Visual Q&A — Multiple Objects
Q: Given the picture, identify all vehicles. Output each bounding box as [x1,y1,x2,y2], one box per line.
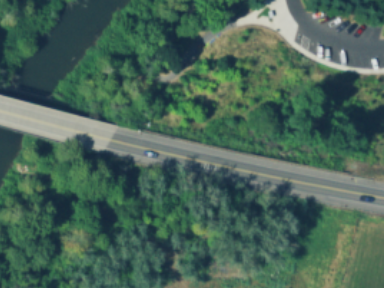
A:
[341,51,346,64]
[362,196,373,202]
[326,48,330,60]
[372,59,378,69]
[329,18,342,28]
[313,14,324,20]
[348,24,358,34]
[338,22,348,32]
[356,26,365,36]
[146,152,157,158]
[317,46,323,58]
